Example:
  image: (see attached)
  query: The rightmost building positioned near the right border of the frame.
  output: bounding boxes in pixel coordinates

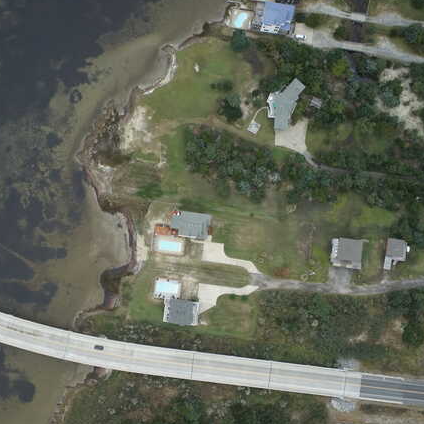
[383,238,407,270]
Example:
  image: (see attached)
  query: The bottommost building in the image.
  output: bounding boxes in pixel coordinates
[163,293,199,326]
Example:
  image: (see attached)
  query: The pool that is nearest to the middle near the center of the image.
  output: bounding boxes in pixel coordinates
[152,236,185,256]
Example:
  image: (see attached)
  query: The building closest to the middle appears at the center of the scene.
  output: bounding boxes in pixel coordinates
[155,212,213,238]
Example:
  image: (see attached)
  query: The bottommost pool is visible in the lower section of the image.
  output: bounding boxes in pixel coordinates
[154,278,181,298]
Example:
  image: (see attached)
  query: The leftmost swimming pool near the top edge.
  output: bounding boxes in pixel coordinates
[227,9,254,30]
